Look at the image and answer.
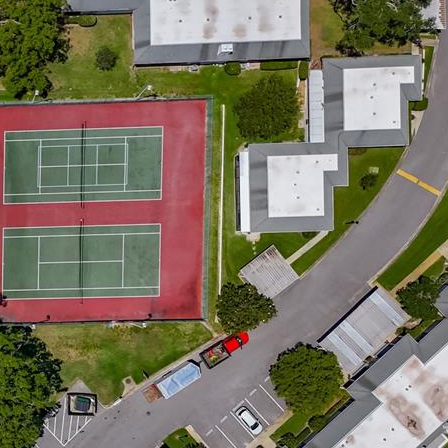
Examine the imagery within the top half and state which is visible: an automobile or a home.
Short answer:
home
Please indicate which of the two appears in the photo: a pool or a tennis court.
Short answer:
tennis court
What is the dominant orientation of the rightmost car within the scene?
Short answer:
diagonally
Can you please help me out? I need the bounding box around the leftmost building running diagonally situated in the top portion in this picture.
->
[235,55,422,233]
